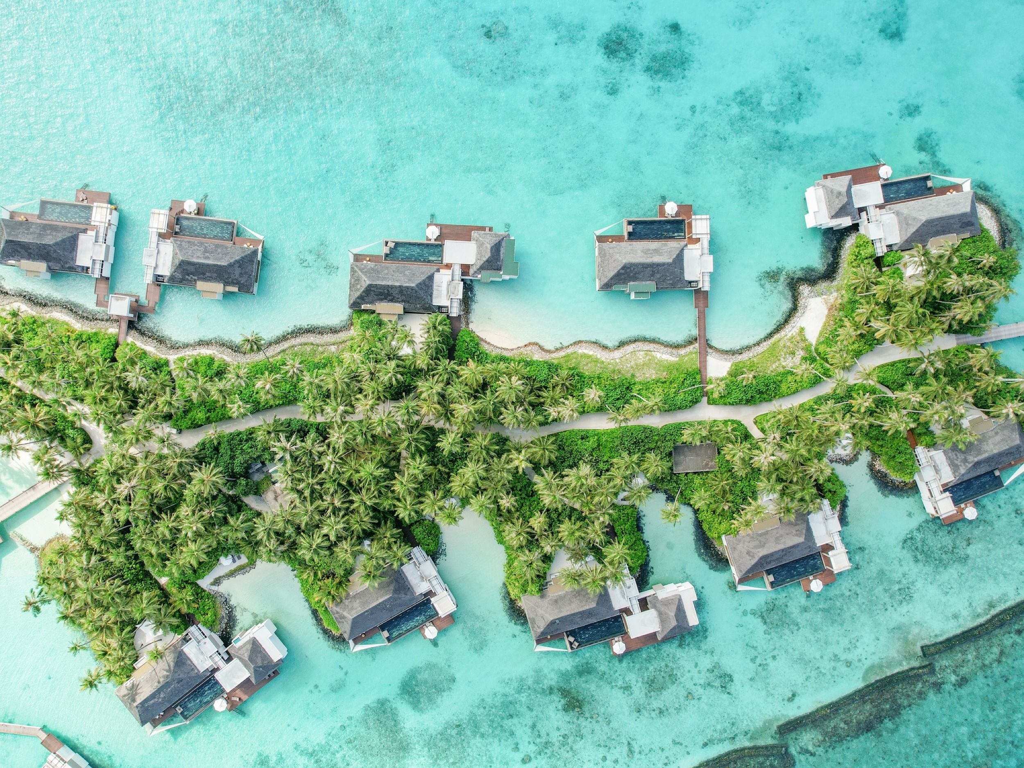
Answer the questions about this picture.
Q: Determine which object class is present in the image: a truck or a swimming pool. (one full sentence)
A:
Visible in the photo is a swimming pool.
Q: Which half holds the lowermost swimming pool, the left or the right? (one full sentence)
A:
It is on the left.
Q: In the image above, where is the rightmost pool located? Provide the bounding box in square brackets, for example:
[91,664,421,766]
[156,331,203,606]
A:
[949,461,1017,502]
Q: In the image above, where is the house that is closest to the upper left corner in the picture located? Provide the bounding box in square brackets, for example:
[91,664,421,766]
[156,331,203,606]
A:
[0,184,127,280]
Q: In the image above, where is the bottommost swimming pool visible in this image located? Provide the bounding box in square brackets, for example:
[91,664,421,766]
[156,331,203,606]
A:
[172,674,230,726]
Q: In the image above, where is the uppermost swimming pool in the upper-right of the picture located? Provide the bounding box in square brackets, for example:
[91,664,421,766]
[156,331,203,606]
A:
[876,172,938,204]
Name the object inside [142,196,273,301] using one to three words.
house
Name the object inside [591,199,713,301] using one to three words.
house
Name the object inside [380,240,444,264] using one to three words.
swimming pool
